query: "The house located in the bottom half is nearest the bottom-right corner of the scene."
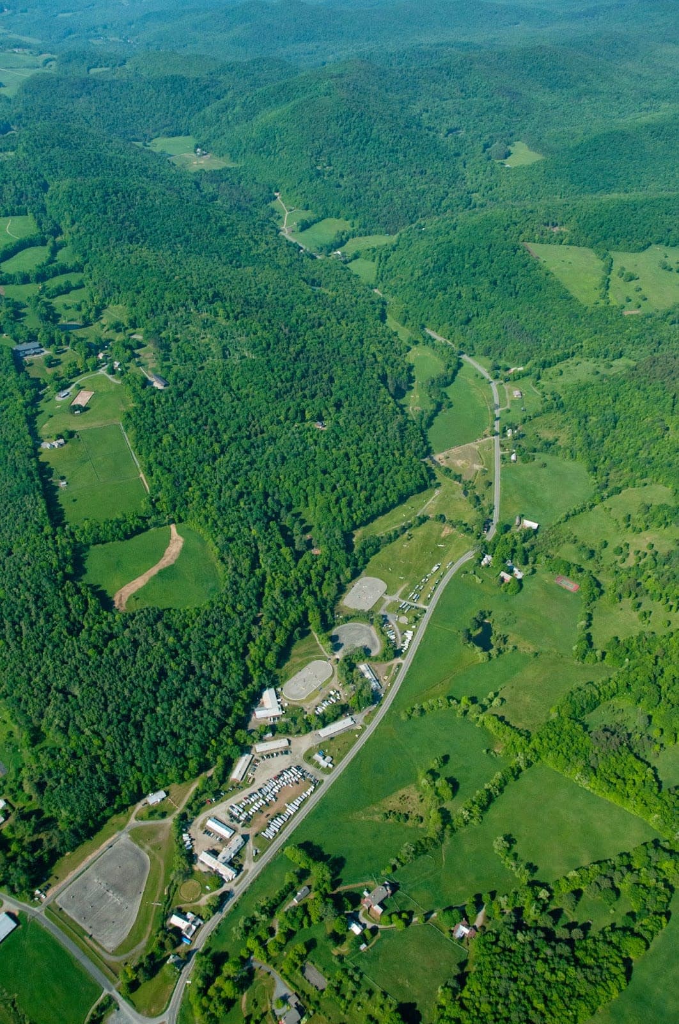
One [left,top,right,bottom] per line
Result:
[452,921,478,942]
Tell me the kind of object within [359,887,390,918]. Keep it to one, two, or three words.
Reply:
barn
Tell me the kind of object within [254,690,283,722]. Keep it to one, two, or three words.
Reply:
building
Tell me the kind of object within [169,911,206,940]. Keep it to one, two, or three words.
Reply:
barn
